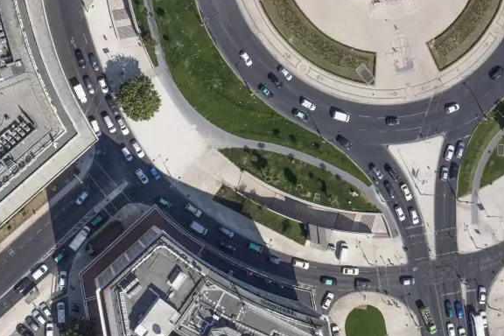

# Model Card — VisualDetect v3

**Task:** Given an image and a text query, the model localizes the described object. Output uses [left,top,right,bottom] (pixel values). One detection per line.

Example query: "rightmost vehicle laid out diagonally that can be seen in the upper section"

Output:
[488,67,503,79]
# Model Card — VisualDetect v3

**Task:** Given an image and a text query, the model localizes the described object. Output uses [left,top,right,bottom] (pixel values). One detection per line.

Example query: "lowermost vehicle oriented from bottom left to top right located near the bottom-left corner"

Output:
[16,279,31,294]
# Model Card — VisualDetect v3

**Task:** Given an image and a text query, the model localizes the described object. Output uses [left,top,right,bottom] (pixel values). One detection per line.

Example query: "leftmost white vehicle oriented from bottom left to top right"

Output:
[32,264,47,279]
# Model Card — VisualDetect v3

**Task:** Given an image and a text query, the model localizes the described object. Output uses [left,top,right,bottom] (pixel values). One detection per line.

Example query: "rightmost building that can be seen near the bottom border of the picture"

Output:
[79,205,330,336]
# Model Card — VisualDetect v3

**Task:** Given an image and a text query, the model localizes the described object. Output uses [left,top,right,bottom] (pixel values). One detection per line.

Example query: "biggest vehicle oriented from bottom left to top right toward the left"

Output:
[69,226,90,253]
